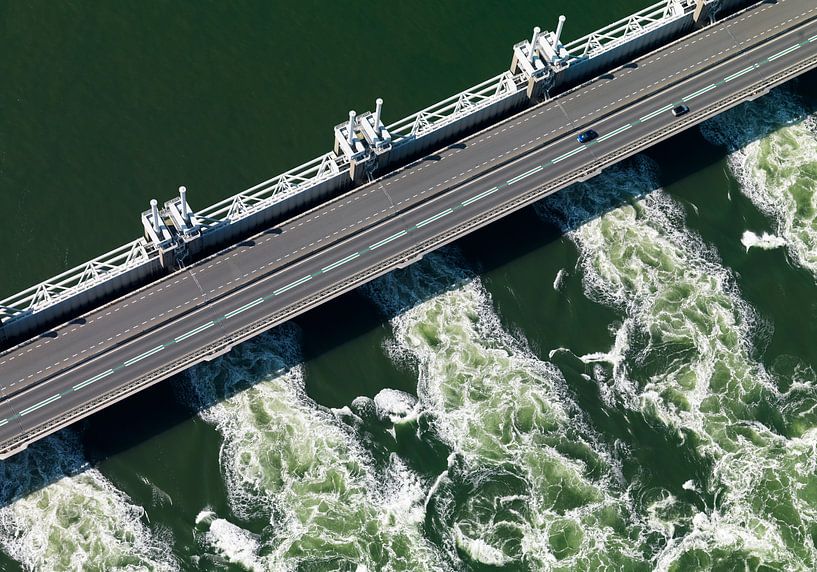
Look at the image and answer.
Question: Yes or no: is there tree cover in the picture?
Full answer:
No, tree cover can't be seen anywhere here.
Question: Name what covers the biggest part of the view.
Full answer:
The scene is dominated by water.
